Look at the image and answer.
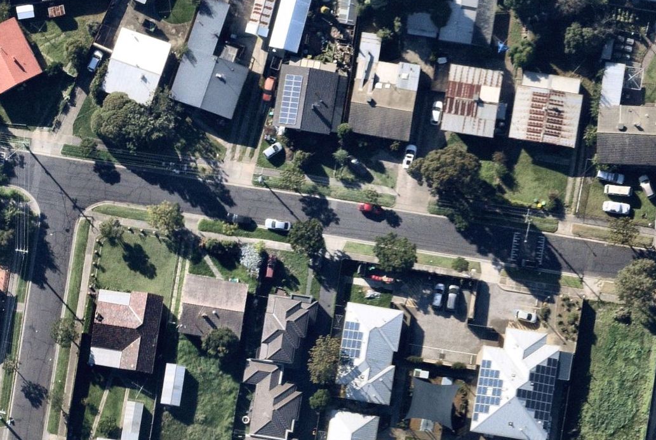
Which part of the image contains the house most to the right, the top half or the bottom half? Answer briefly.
top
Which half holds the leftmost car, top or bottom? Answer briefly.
top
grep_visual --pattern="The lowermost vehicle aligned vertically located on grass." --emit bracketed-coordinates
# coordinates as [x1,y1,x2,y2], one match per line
[263,253,277,281]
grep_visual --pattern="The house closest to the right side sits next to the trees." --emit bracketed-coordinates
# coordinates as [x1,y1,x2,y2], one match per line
[598,62,656,166]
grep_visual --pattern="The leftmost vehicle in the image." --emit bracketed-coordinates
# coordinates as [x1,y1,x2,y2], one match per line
[85,48,105,74]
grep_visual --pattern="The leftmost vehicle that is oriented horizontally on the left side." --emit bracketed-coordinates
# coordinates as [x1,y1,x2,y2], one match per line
[226,213,252,227]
